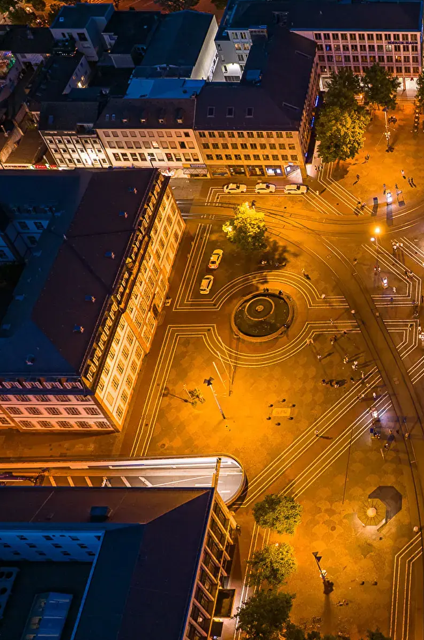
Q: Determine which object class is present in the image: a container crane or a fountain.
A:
fountain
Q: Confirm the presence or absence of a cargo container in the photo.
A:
No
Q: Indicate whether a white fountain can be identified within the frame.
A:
No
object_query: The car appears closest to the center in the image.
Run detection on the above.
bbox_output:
[198,274,216,296]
